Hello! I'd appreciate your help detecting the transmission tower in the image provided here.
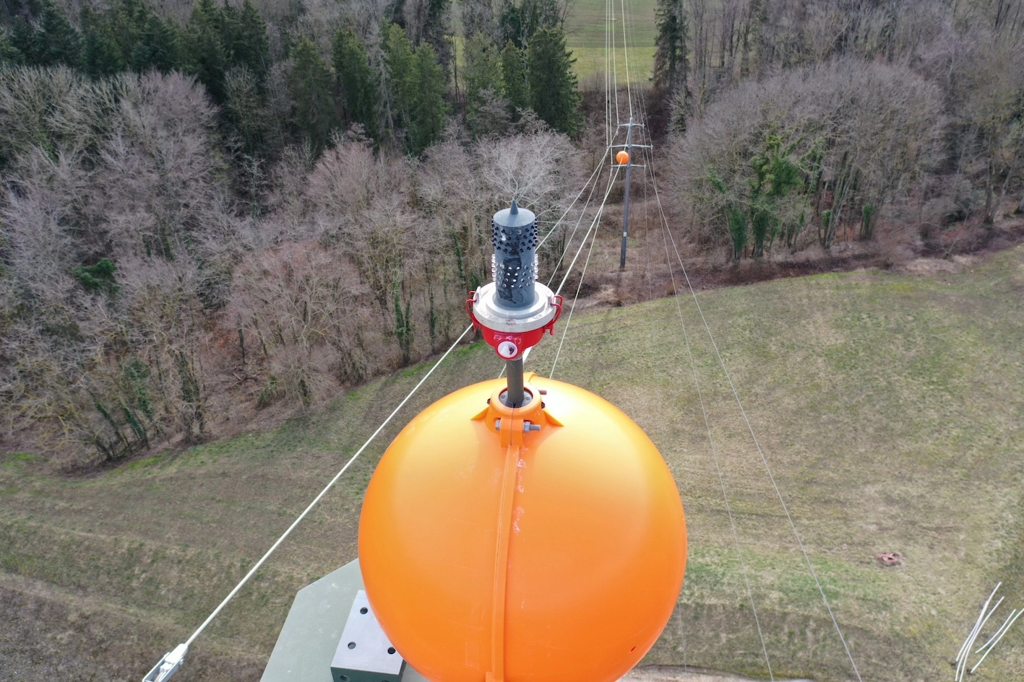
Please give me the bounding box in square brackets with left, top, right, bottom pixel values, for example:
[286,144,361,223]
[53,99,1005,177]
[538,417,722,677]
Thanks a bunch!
[607,116,652,266]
